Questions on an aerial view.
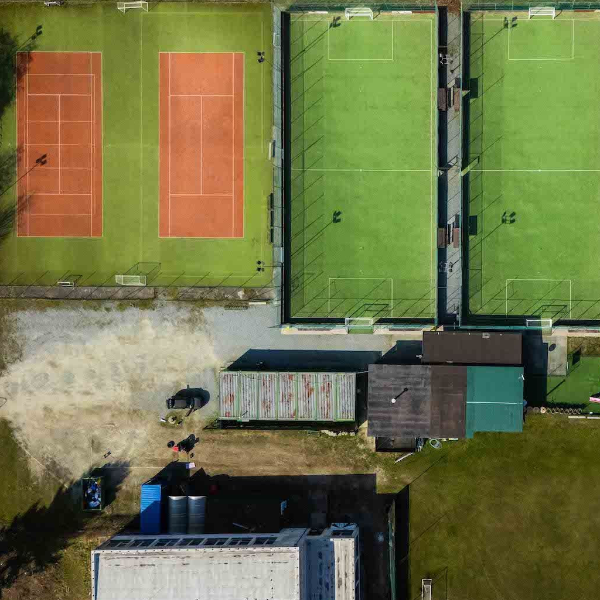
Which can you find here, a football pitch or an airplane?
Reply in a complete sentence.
Visible in the photo is a football pitch.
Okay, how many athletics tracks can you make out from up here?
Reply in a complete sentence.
Not a single athletics track can be seen.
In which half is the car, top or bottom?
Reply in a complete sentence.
You can find the car in the bottom half.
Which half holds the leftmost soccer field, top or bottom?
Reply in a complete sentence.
The leftmost soccer field sits in the top half of the picture.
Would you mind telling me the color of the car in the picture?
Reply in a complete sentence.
The color of the car is black.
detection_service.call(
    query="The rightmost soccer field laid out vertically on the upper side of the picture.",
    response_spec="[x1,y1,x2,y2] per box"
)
[465,10,600,324]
